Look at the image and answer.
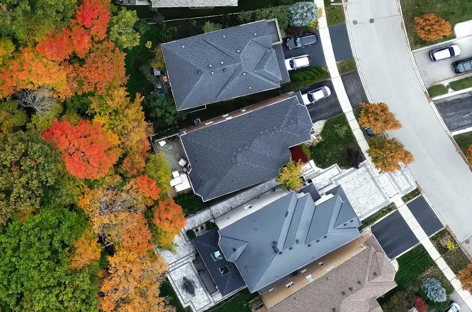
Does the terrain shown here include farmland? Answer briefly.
No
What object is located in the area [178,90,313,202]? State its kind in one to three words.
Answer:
house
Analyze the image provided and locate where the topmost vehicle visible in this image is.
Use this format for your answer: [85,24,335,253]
[284,31,320,50]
